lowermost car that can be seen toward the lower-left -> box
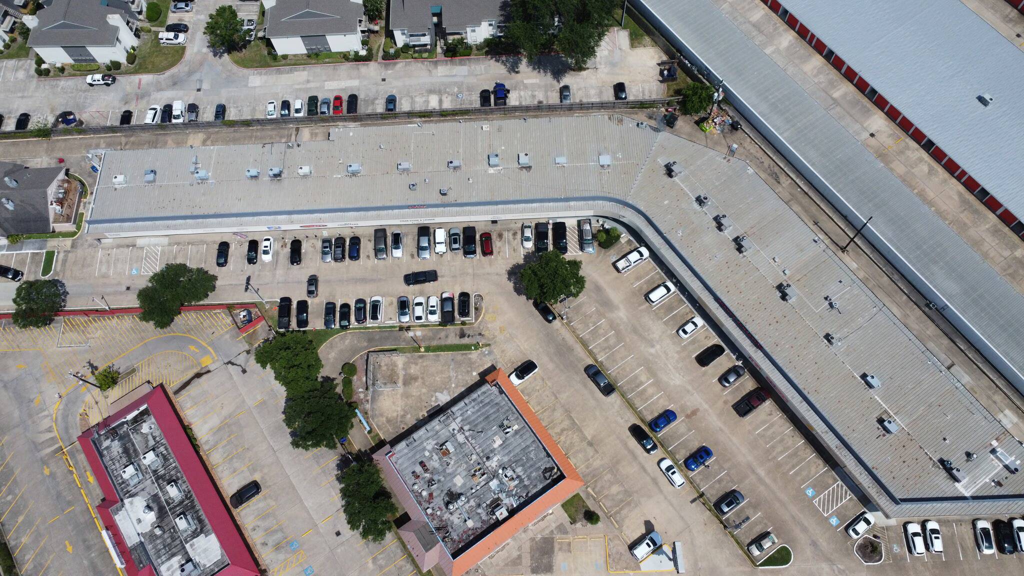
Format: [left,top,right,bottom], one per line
[230,479,263,509]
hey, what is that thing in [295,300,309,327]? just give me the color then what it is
black car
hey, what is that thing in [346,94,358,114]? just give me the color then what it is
black vehicle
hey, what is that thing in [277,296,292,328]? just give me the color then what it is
black vehicle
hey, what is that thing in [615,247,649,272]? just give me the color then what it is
white truck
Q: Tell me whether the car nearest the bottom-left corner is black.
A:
Yes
